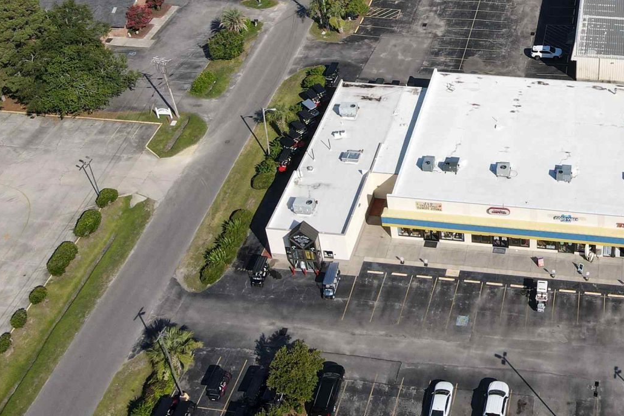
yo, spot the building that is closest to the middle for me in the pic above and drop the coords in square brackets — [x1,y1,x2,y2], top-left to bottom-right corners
[263,76,424,271]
